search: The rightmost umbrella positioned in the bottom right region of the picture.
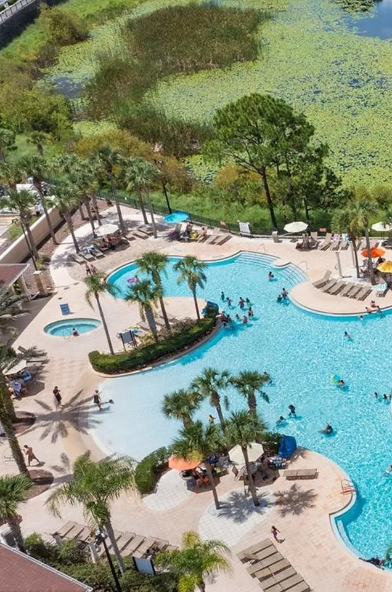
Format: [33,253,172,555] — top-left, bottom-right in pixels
[276,432,301,457]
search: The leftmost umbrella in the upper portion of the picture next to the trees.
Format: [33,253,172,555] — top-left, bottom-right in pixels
[95,225,121,245]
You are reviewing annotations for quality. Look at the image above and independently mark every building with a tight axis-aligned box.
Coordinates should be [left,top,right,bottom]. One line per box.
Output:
[0,263,30,305]
[0,541,95,592]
